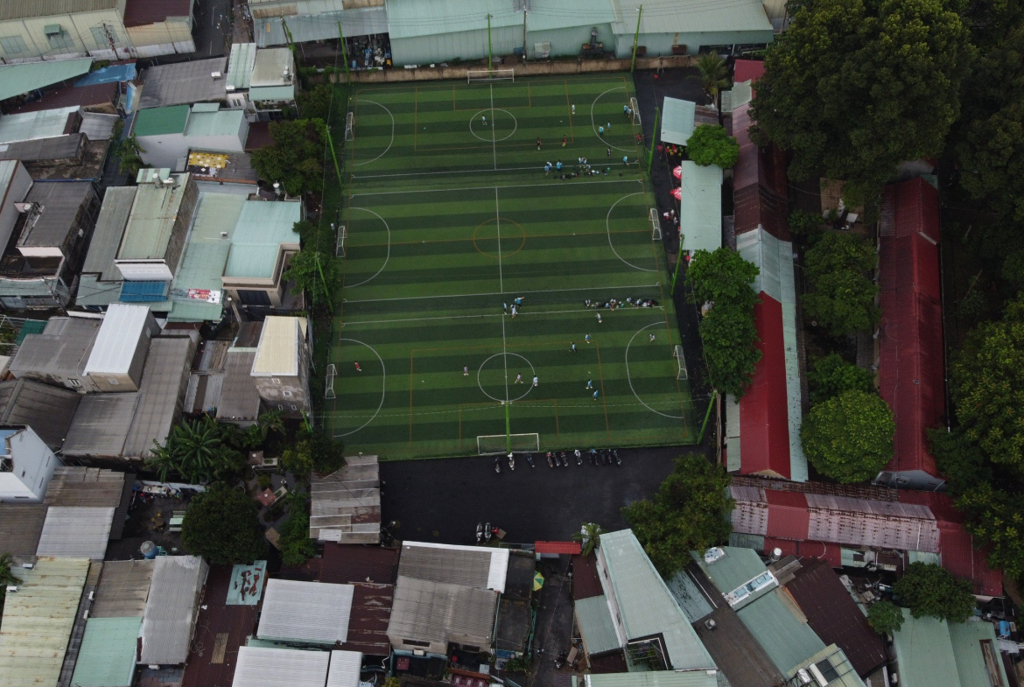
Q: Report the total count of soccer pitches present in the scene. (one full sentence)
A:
The picture shows 3 soccer pitches.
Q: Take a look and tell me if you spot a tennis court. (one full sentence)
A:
No, the photo shows no tennis court.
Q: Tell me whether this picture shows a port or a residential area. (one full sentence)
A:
The area seen from above is a residential area.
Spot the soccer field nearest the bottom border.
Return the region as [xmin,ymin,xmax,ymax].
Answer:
[321,296,697,460]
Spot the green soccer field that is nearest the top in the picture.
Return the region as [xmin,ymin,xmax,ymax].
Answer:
[341,71,649,186]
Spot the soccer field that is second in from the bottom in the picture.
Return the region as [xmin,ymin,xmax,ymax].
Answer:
[331,171,671,312]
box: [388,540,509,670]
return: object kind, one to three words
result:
house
